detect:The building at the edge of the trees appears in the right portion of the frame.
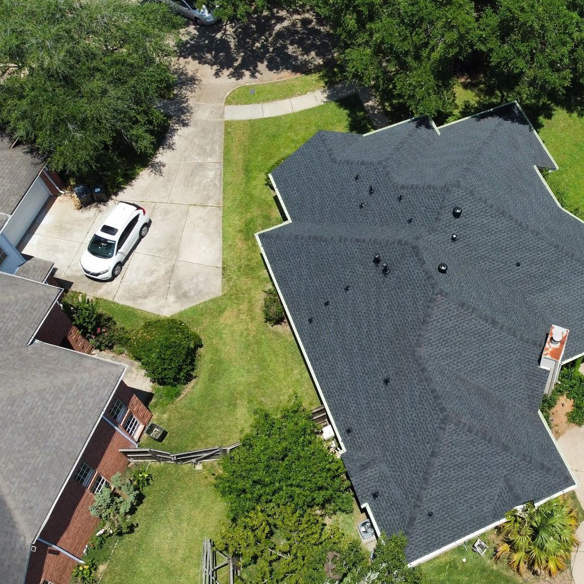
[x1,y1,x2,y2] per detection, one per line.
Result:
[253,99,584,564]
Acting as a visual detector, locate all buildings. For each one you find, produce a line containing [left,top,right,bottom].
[253,99,584,564]
[0,131,167,584]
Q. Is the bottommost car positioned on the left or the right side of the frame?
left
